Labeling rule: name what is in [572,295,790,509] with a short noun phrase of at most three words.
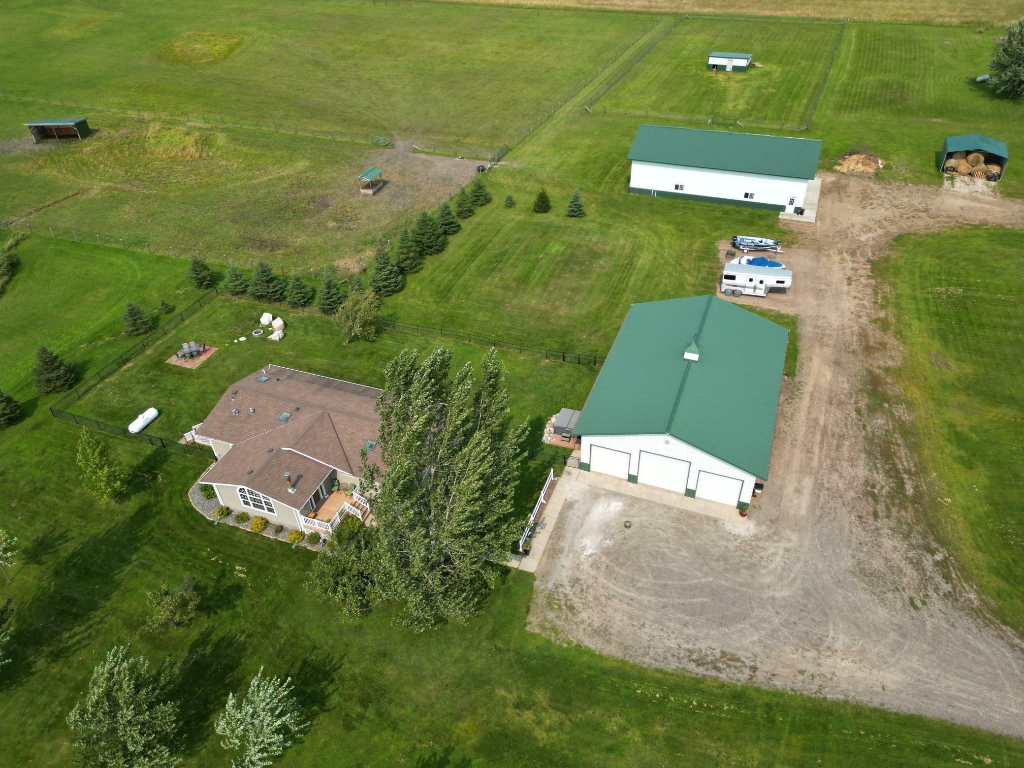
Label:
barn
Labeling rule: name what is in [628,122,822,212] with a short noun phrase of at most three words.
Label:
shed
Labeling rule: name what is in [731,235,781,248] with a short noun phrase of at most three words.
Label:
boat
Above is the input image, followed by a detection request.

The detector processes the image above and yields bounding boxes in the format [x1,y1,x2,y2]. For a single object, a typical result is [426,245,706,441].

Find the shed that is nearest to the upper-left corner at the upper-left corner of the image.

[19,119,90,143]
